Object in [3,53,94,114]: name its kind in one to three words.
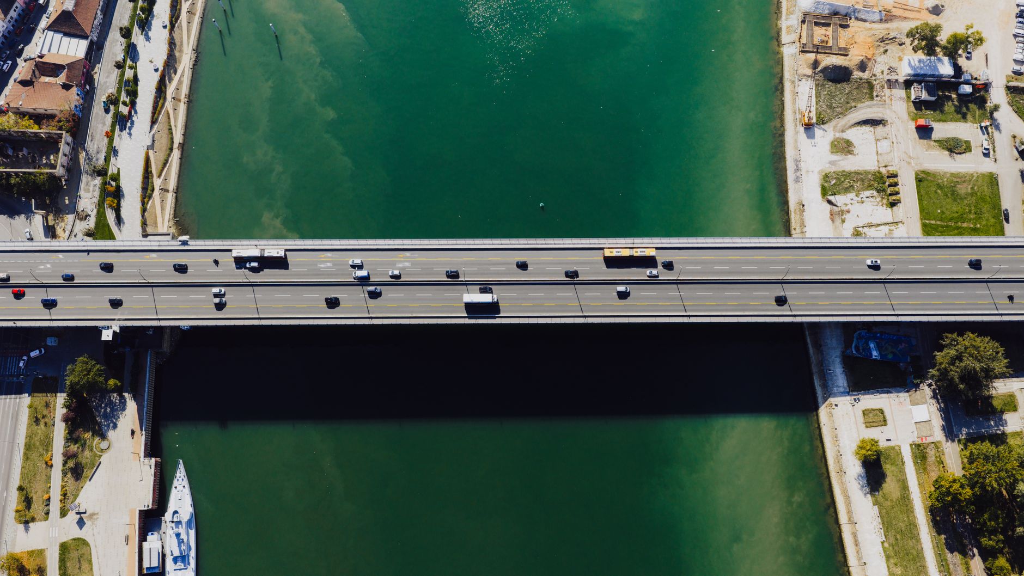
house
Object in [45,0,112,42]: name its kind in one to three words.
house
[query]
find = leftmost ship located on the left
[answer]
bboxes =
[164,459,199,576]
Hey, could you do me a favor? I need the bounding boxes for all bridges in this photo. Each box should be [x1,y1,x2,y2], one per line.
[0,236,1024,327]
